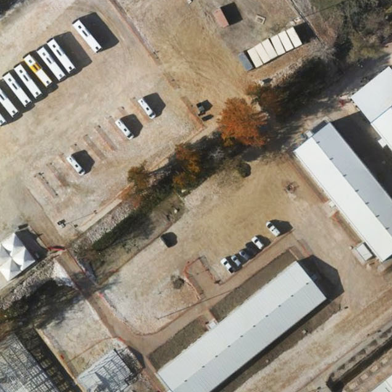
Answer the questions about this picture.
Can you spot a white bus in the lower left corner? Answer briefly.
No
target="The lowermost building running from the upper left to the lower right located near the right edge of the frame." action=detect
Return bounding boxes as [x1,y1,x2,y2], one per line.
[294,123,392,261]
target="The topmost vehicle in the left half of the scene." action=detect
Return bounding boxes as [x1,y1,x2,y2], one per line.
[69,17,101,53]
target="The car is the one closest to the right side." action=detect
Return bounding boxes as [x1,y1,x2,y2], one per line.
[267,221,280,236]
